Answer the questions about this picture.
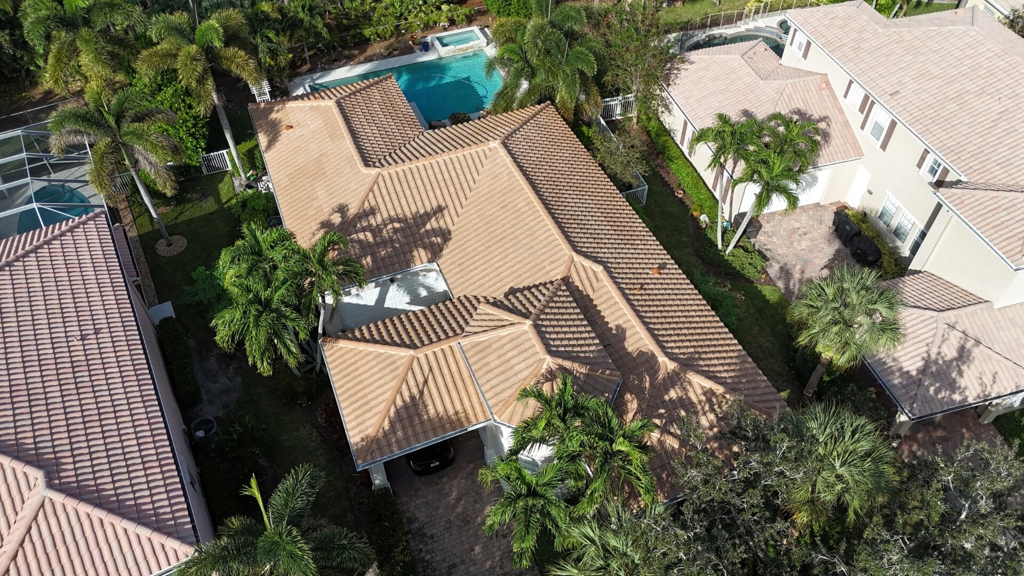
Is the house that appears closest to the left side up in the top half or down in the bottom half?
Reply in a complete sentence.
The house that appears closest to the left side sits in the bottom half of the picture.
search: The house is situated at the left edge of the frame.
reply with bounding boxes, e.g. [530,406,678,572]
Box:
[0,206,222,576]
